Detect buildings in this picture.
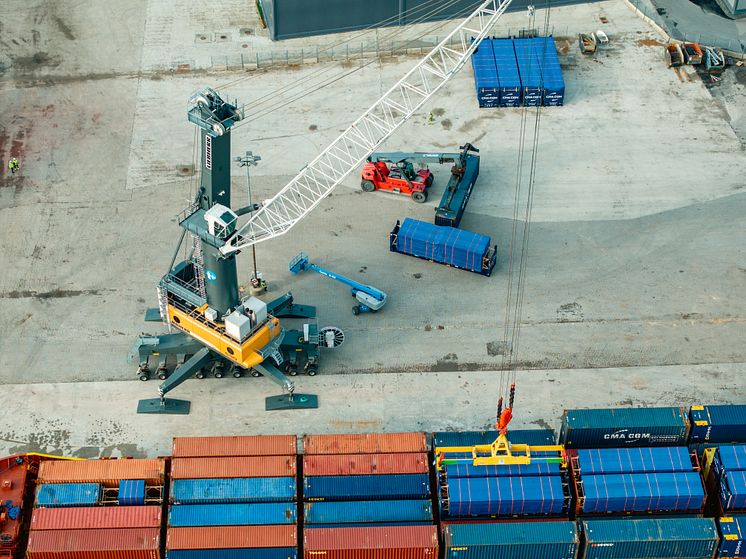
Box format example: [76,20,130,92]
[715,0,746,20]
[261,0,602,40]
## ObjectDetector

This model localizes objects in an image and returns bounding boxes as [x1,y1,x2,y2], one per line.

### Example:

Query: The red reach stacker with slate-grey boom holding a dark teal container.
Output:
[357,144,479,217]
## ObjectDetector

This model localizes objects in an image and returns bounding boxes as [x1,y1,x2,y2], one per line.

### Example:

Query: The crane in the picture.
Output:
[122,0,545,413]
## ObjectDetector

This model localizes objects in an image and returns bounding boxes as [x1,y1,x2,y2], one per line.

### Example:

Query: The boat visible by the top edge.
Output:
[597,26,610,42]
